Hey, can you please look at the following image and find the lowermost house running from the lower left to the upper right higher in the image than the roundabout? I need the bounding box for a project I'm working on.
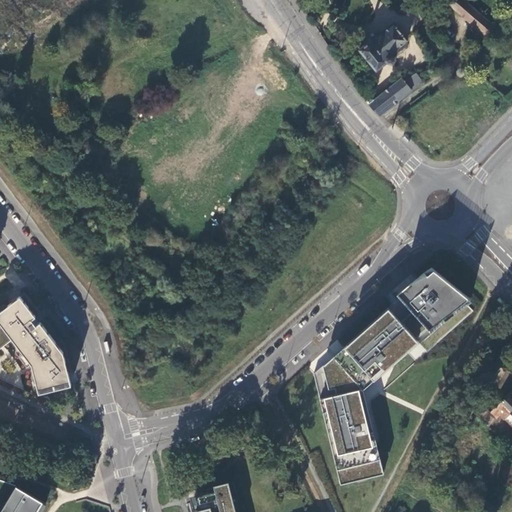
[368,73,422,116]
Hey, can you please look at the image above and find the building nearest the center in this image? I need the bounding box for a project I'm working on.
[344,311,418,380]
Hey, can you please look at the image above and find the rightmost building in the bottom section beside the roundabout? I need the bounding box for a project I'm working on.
[396,270,474,351]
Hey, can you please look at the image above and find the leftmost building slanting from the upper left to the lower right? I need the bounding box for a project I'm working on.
[0,298,71,396]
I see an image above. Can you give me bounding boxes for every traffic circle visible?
[390,154,491,256]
